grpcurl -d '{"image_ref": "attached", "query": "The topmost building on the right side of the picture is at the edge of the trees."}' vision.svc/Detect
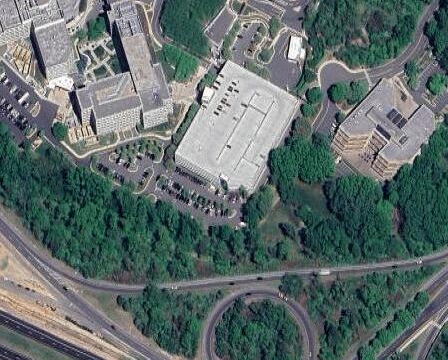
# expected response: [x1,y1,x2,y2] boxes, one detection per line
[289,35,304,61]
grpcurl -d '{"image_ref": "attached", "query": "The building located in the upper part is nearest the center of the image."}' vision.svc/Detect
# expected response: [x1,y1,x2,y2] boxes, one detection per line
[176,61,300,195]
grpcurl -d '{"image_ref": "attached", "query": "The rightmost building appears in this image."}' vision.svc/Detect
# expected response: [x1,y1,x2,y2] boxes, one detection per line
[335,78,439,177]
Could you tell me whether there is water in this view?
No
